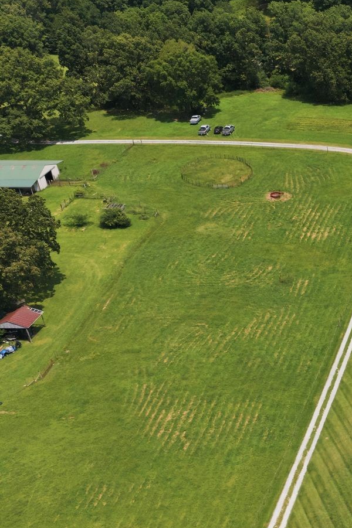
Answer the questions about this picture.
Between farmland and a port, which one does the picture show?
farmland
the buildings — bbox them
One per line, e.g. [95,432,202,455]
[0,307,47,343]
[0,160,65,195]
